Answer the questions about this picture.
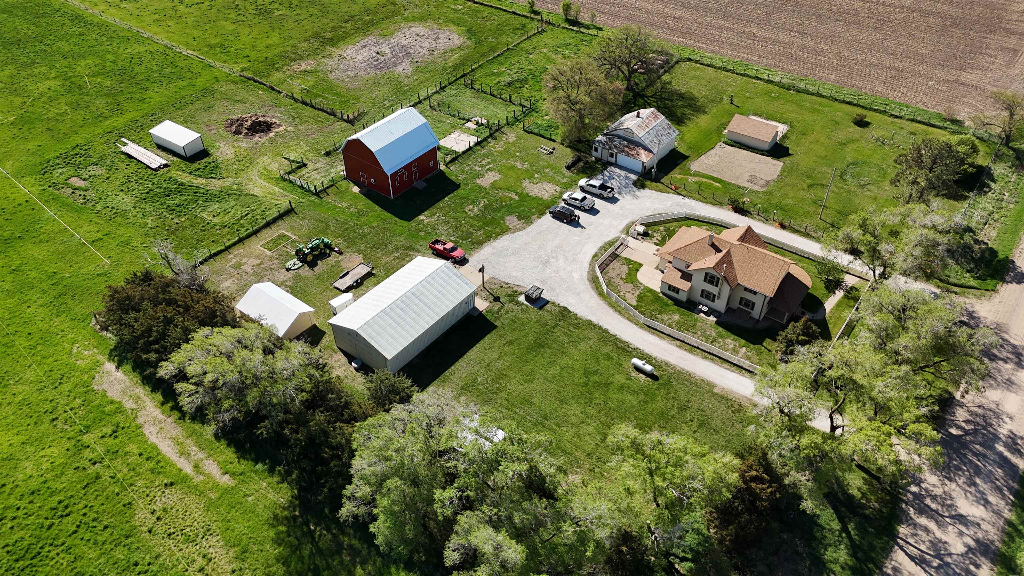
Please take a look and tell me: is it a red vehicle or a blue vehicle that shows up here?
red vehicle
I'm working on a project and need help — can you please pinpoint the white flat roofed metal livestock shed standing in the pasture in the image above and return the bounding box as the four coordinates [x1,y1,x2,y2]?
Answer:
[152,120,205,157]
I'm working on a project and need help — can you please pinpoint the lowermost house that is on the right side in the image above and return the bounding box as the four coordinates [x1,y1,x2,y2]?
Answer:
[655,224,812,324]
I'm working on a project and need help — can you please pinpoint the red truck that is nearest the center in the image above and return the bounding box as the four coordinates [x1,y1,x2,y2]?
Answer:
[428,239,466,262]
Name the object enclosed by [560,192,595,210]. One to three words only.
vehicle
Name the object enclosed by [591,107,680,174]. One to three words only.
building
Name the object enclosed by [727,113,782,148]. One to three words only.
shed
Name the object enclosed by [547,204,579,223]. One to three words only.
car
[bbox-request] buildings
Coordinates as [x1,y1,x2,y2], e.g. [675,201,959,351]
[591,107,680,174]
[329,259,478,368]
[655,224,812,324]
[152,120,205,157]
[337,106,442,198]
[727,113,782,148]
[236,284,316,347]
